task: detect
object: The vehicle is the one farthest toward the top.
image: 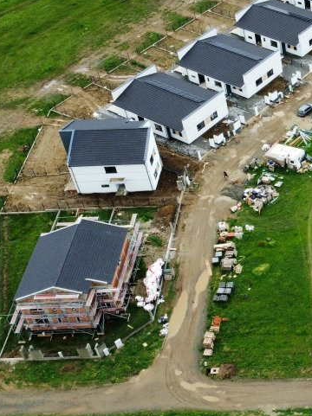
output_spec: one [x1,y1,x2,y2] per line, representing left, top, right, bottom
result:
[296,104,312,117]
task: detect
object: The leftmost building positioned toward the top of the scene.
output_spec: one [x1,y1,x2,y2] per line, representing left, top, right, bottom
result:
[58,117,162,197]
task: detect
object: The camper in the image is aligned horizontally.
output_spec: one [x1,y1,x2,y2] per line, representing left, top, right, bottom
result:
[264,145,312,174]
